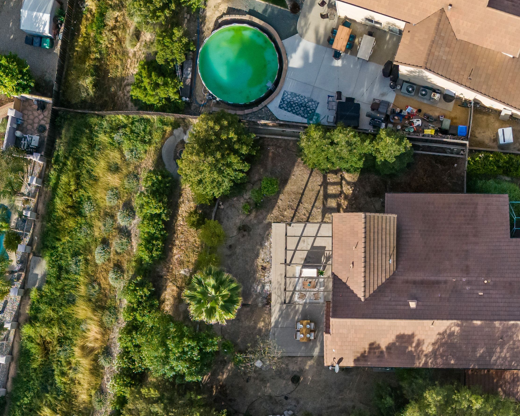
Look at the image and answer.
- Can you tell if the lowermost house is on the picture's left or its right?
right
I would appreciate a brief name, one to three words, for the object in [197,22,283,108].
swimming pool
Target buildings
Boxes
[323,193,520,403]
[334,0,520,114]
[20,0,61,39]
